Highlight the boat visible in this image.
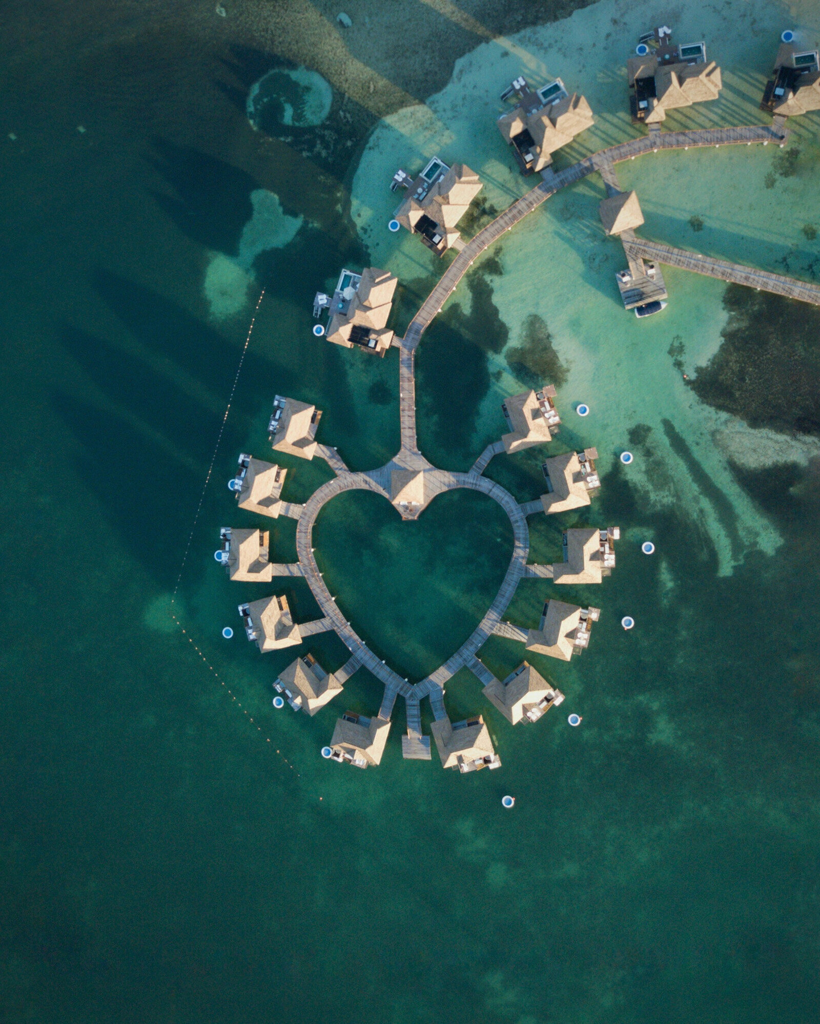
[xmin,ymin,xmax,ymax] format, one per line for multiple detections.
[634,300,670,318]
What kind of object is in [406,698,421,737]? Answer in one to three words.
pier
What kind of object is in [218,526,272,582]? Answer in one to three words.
house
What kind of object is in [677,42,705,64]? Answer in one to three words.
swimming pool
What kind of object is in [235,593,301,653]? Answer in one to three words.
house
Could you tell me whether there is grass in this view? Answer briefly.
No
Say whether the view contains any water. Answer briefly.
Yes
